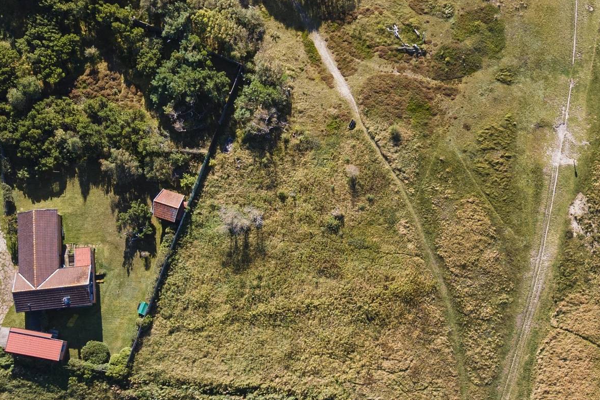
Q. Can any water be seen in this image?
No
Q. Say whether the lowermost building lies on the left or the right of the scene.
left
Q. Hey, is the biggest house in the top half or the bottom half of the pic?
bottom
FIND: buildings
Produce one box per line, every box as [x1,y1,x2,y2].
[153,189,186,222]
[4,327,71,361]
[11,209,100,312]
